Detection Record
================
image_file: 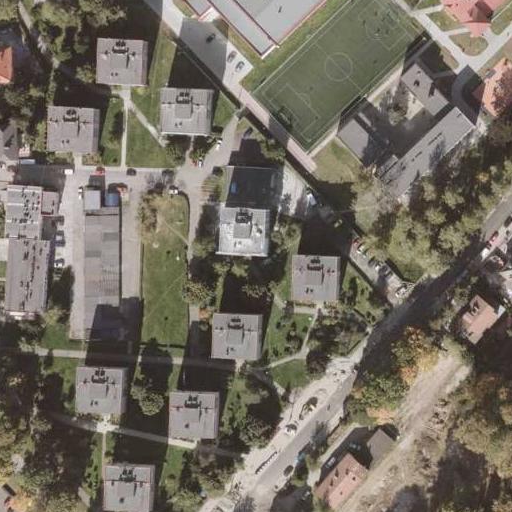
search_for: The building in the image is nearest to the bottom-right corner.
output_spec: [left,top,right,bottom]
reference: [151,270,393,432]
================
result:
[358,427,397,466]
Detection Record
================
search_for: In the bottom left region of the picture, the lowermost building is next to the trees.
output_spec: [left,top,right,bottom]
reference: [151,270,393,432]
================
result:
[103,465,155,512]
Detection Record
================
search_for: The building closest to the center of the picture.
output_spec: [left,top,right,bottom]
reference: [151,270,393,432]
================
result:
[217,208,269,259]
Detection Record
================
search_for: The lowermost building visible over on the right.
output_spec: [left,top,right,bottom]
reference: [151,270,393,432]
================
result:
[313,451,370,509]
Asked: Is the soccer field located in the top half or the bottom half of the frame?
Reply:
top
